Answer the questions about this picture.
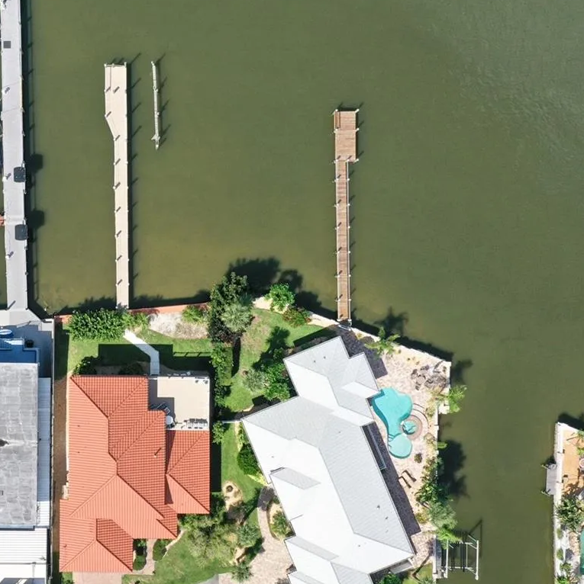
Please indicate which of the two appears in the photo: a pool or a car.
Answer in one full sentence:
Visible in the photo is a pool.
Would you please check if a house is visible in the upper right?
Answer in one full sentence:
No, I see no house in the upper right.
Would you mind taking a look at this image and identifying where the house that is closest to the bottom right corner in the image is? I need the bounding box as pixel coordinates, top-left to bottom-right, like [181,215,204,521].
[241,336,416,584]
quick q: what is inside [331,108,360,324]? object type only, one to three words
pier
